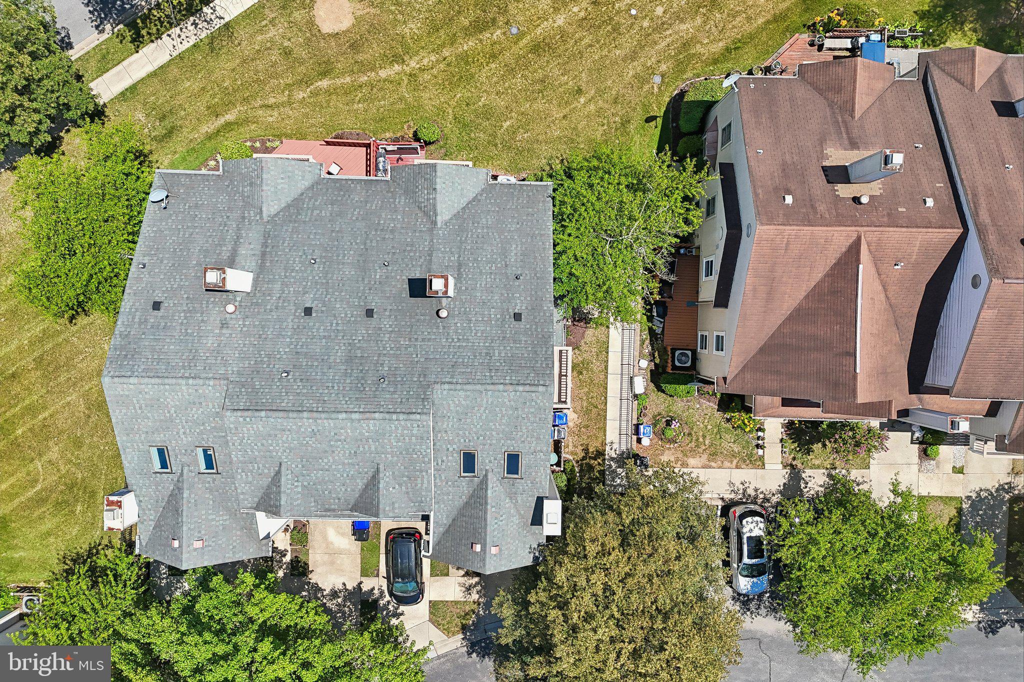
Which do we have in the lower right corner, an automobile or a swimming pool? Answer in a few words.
automobile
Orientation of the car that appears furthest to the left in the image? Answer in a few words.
up and down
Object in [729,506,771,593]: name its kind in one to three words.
car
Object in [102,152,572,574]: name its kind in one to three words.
house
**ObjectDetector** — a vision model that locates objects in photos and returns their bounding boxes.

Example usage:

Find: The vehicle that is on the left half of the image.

[387,527,426,605]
